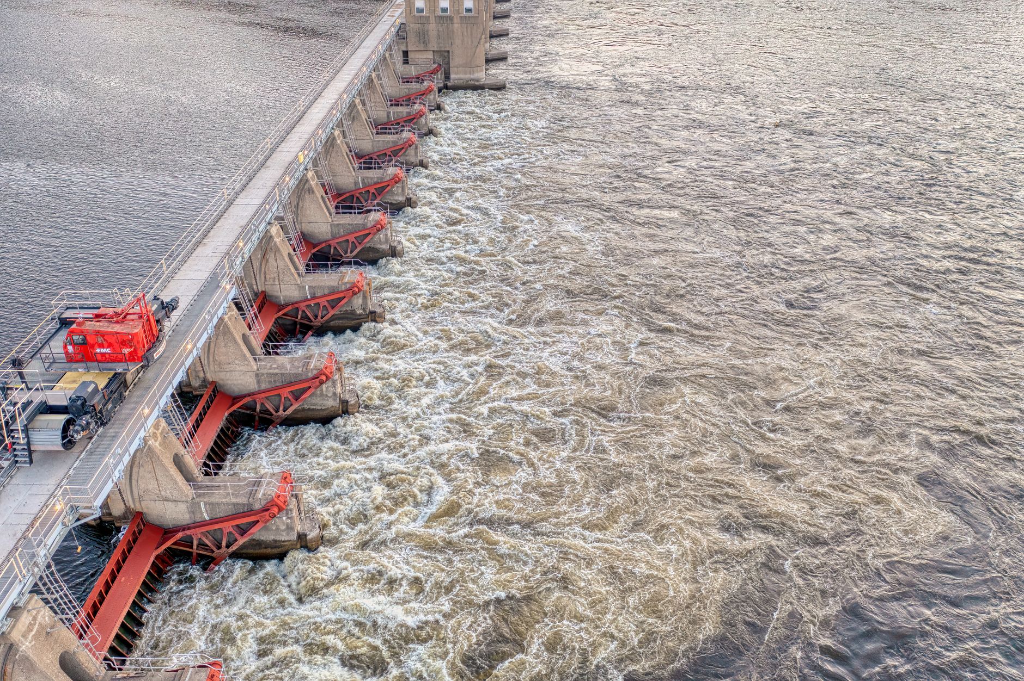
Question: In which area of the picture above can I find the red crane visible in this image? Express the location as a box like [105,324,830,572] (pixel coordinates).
[38,289,169,375]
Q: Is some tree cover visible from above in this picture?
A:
No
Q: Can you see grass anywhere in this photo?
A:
No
